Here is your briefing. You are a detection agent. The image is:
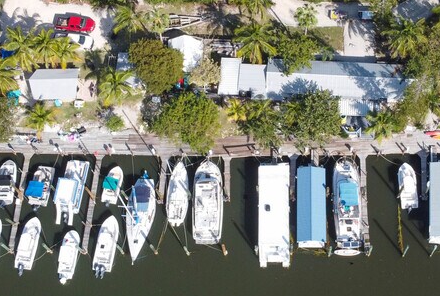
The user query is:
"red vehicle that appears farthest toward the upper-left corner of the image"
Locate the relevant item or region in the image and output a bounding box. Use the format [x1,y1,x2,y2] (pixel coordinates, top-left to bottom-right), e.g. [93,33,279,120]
[52,15,99,36]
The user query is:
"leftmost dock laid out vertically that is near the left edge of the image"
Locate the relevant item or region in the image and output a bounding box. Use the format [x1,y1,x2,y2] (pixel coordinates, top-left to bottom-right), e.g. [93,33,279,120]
[7,155,35,253]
